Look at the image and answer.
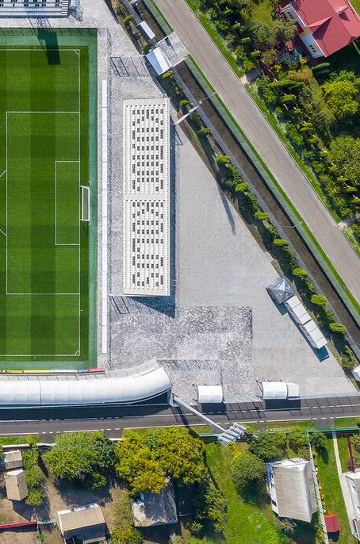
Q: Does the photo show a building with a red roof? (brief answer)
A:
Yes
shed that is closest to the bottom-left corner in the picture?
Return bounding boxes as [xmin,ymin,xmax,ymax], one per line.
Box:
[4,468,25,500]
